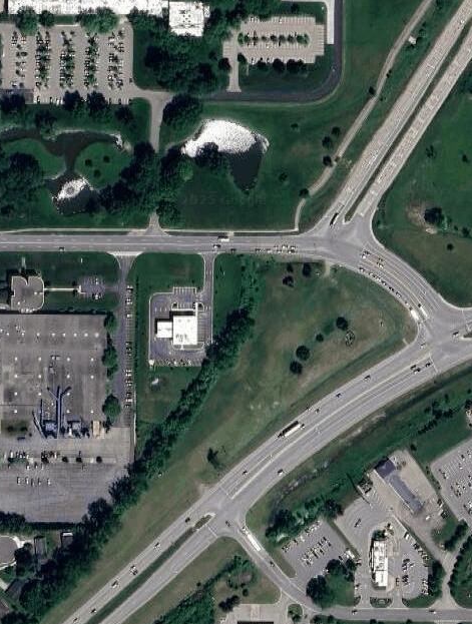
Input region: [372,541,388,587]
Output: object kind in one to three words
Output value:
building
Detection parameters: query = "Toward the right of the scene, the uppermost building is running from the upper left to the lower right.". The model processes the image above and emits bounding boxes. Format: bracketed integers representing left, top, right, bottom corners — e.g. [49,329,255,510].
[375,459,423,523]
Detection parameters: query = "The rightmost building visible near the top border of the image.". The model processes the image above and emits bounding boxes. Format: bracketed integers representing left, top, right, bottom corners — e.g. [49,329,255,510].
[169,2,210,37]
